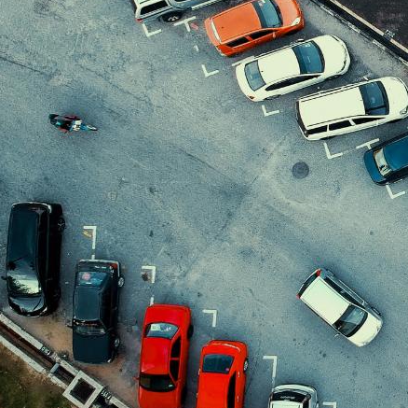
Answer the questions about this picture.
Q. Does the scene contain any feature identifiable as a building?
No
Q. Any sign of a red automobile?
Yes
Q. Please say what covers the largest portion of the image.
paved ground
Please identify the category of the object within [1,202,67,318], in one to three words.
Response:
car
